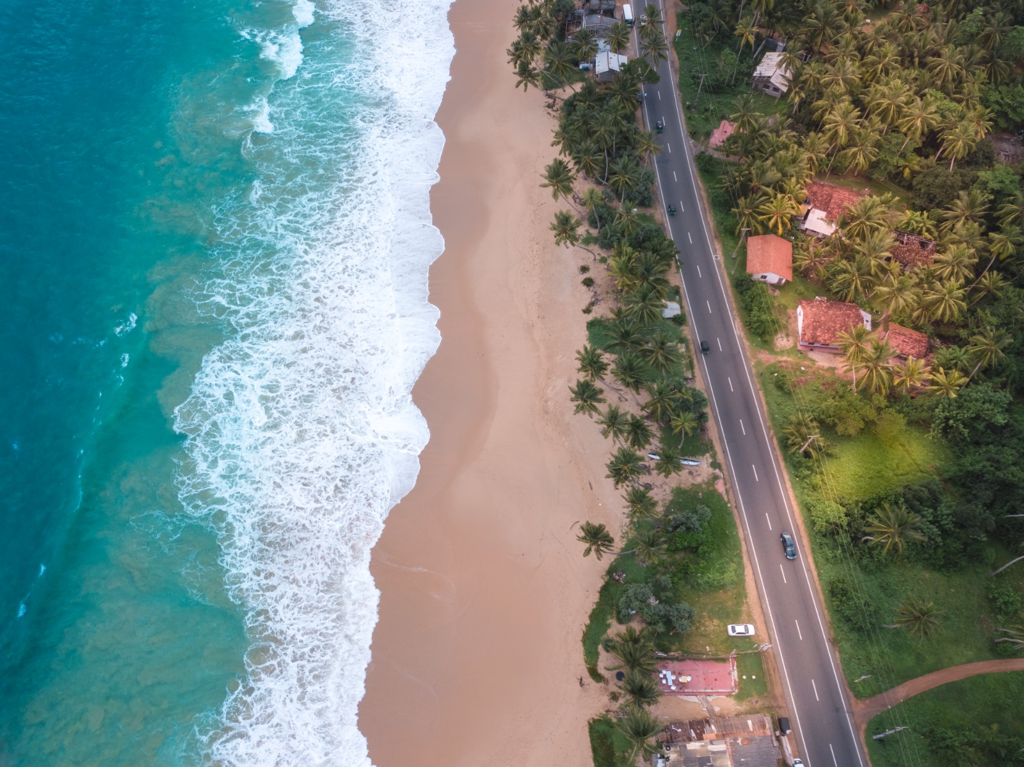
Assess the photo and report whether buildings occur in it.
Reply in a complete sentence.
Yes, I can see a building in this picture.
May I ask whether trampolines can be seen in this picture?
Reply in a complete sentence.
No, there isn't any trampoline down there.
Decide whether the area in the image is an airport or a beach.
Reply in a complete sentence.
What you see here is a beach.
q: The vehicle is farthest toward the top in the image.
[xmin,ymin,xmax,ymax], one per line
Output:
[624,1,636,26]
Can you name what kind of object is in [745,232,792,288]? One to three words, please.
house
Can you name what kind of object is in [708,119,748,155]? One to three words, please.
house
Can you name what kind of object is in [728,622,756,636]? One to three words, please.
car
